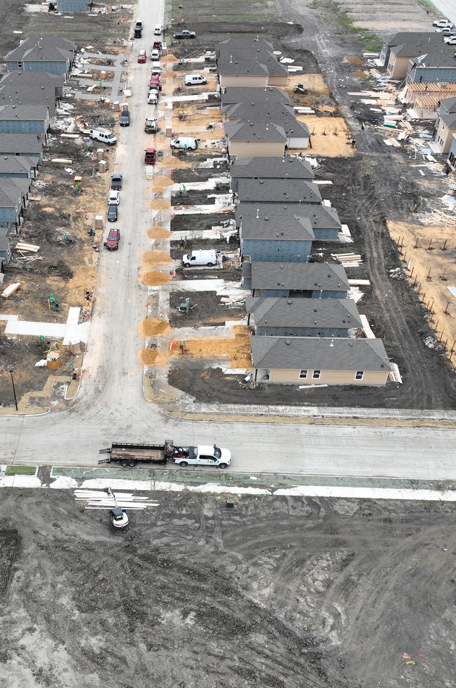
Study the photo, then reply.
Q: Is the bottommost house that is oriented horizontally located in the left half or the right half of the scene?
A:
right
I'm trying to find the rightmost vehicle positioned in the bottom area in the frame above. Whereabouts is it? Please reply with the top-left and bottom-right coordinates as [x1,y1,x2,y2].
[170,444,231,468]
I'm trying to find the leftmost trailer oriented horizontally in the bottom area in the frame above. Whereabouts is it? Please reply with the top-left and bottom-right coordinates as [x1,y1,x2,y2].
[98,443,174,467]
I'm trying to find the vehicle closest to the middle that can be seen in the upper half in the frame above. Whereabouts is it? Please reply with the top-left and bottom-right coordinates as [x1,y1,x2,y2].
[183,248,227,267]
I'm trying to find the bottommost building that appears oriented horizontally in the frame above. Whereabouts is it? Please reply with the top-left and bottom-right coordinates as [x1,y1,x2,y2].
[249,334,392,387]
